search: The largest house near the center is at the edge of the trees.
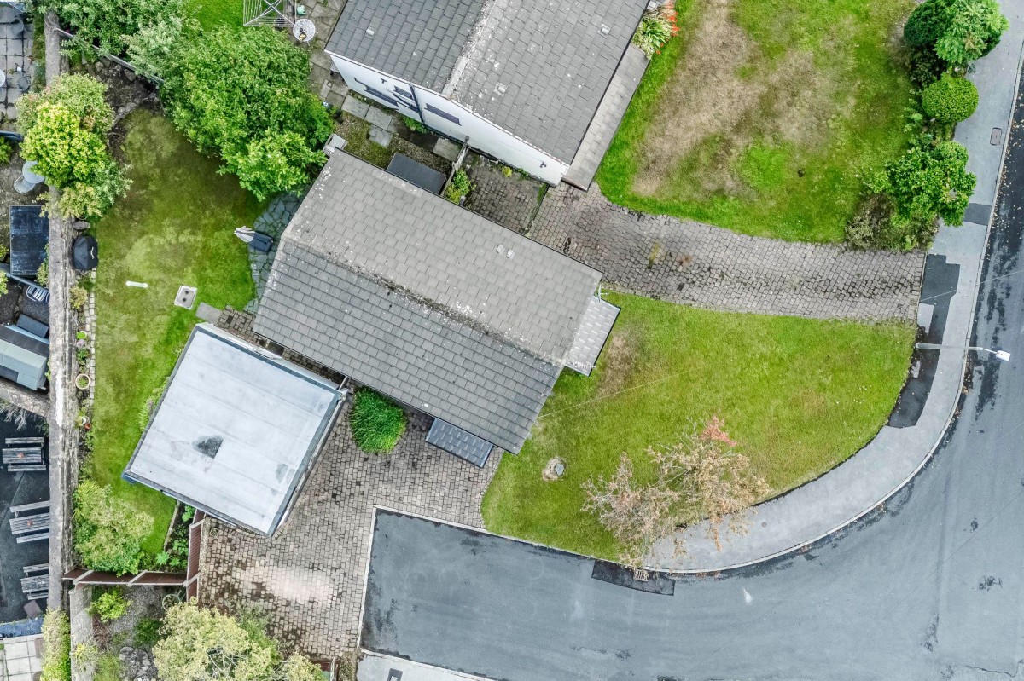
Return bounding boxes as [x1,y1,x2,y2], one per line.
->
[254,150,622,469]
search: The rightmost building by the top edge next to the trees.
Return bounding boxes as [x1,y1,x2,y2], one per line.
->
[323,0,652,191]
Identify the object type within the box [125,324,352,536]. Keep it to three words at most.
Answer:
building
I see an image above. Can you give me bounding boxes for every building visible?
[125,324,352,536]
[323,0,652,191]
[254,150,622,469]
[0,323,51,390]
